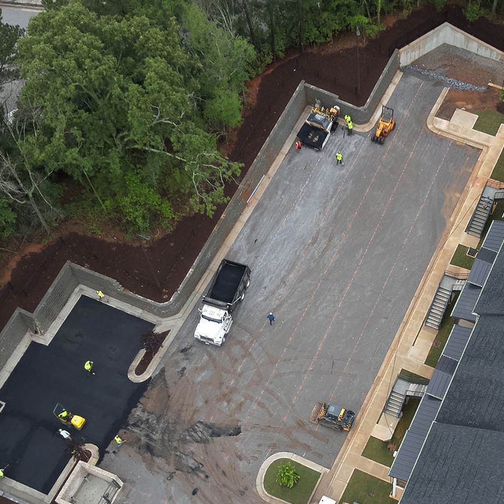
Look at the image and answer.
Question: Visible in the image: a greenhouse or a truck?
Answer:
truck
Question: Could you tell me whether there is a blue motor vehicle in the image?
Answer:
No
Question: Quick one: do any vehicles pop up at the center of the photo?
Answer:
Yes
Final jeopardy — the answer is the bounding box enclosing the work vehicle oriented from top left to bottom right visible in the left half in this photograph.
[46,394,89,431]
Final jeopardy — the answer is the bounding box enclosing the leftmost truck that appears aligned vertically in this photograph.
[197,252,250,352]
